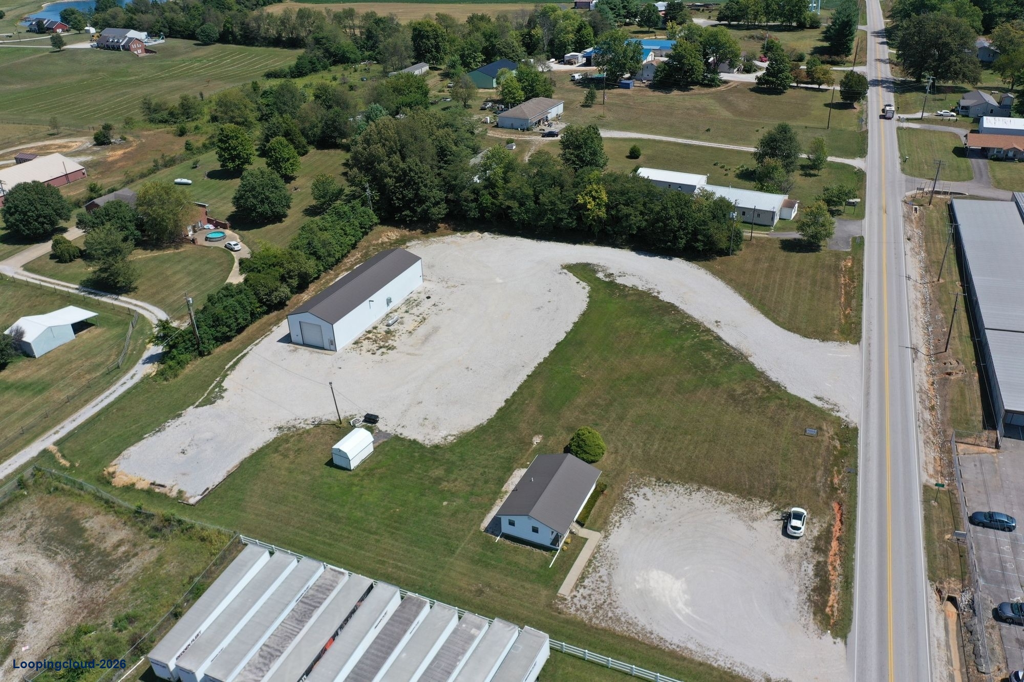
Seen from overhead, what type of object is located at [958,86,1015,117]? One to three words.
house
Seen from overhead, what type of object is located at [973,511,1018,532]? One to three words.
car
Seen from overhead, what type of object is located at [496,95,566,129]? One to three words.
house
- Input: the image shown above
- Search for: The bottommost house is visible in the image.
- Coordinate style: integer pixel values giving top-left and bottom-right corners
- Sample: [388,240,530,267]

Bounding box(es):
[495,454,601,548]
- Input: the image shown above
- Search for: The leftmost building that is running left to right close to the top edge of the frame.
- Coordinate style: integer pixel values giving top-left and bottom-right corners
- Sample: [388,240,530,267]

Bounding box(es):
[25,15,68,32]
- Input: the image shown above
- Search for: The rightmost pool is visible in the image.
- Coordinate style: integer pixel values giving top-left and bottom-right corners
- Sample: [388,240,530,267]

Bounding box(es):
[203,229,227,242]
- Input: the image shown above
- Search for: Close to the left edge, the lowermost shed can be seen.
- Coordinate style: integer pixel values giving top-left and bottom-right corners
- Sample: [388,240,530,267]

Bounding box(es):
[12,306,91,358]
